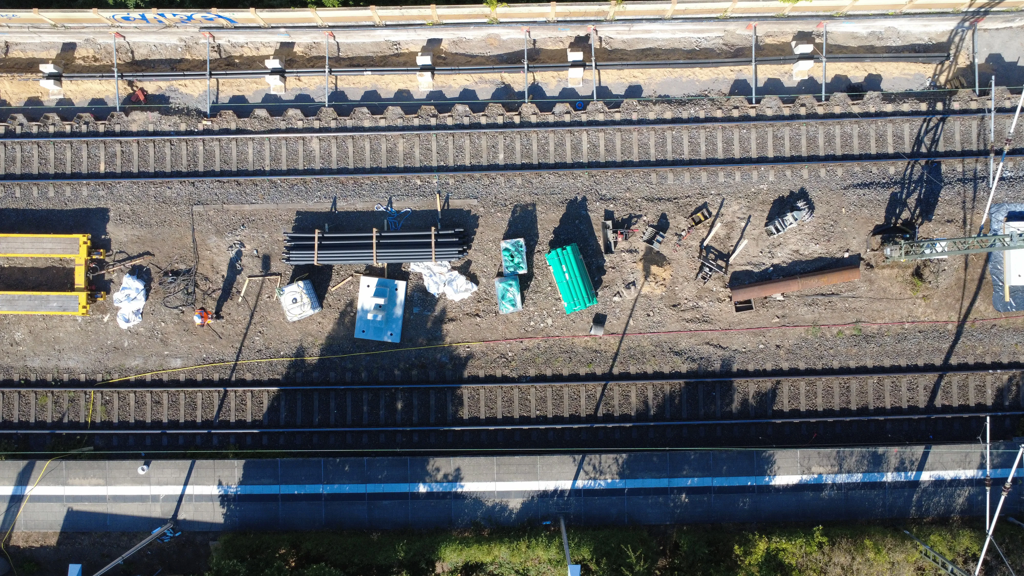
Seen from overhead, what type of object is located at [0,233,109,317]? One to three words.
trailer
